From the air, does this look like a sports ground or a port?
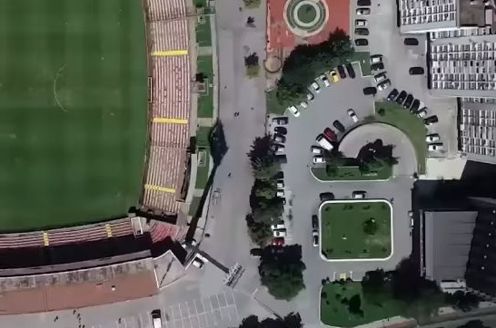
sports ground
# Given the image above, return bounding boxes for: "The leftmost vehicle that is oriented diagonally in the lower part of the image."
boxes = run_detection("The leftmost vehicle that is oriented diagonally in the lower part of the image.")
[188,257,205,272]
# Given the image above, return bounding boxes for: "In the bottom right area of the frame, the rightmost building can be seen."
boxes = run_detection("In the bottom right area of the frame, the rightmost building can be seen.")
[450,192,496,291]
